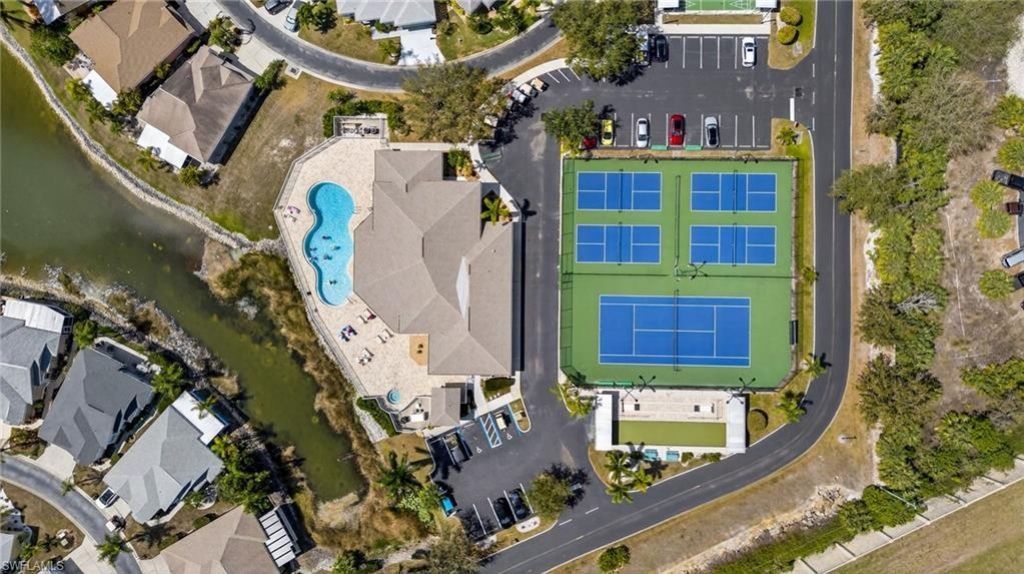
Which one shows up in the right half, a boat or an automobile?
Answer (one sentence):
You can see an automobile in the right half.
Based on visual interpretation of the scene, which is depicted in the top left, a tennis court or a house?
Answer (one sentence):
Visible in the top left is a house.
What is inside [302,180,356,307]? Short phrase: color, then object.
blue swimming pool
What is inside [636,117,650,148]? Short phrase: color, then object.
white car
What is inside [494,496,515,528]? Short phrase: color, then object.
black car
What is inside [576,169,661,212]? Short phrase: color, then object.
blue sports court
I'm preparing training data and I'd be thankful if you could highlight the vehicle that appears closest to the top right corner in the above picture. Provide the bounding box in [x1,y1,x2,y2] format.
[991,171,1024,191]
